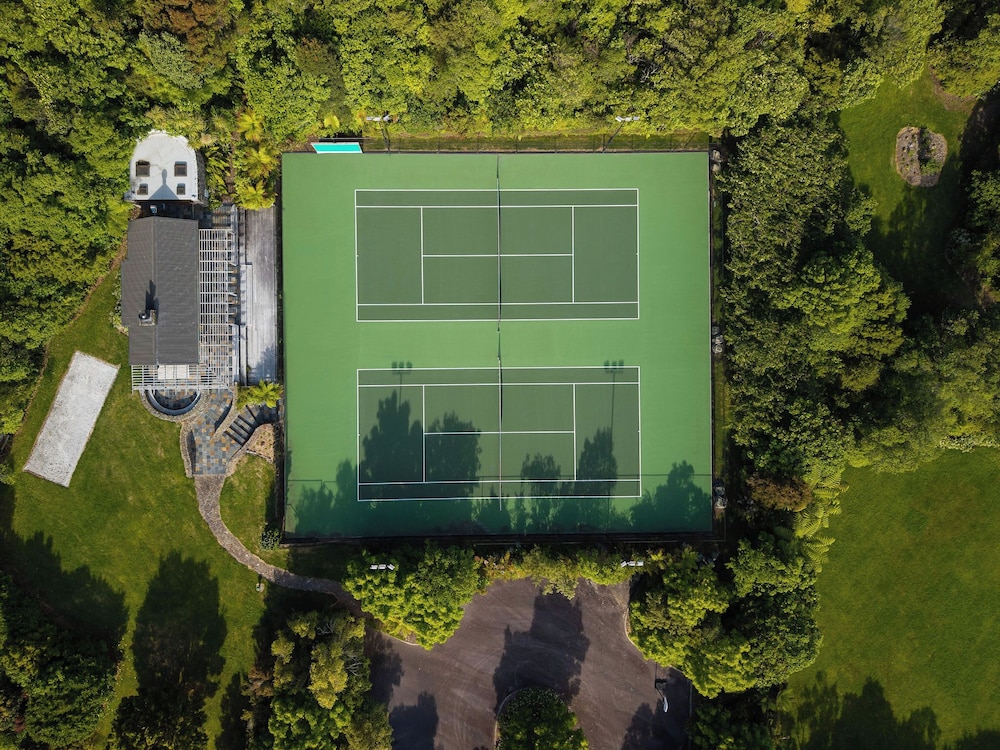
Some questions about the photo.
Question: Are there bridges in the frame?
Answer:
No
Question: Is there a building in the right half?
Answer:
No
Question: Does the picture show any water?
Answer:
No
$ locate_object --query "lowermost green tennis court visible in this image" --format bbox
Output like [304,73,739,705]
[357,366,641,500]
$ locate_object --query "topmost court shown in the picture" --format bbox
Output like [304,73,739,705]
[356,188,640,321]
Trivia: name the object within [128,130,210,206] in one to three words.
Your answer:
building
